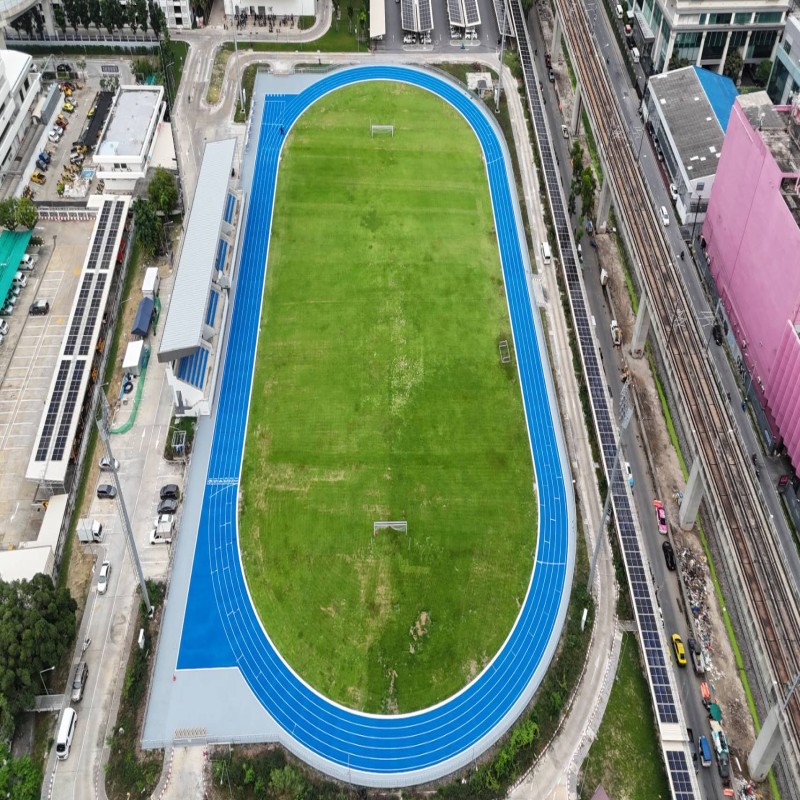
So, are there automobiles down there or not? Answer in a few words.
Yes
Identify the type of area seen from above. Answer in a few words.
sports ground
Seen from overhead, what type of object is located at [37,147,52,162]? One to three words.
car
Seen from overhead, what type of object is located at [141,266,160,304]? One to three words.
building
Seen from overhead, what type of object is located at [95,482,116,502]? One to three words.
car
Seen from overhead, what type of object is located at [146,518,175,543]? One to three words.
truck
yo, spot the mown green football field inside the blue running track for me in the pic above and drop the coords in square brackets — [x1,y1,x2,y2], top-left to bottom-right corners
[239,80,538,713]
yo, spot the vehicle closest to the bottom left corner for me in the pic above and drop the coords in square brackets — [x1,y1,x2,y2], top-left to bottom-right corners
[53,701,78,759]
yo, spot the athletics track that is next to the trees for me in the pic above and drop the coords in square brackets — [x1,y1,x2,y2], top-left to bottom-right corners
[142,61,579,791]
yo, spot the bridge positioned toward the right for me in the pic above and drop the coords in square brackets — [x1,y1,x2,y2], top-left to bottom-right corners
[552,0,800,800]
